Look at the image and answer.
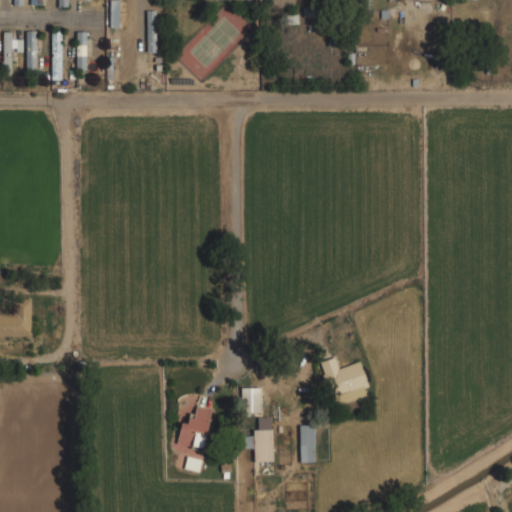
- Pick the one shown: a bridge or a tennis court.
tennis court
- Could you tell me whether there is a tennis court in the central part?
No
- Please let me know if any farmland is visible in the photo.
Yes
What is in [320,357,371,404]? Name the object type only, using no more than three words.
house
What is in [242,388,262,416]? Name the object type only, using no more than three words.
barn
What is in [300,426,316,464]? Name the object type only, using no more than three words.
barn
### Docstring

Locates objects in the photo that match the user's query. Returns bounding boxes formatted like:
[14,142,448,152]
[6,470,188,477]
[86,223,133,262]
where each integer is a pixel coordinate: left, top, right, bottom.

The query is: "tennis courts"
[179,6,254,82]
